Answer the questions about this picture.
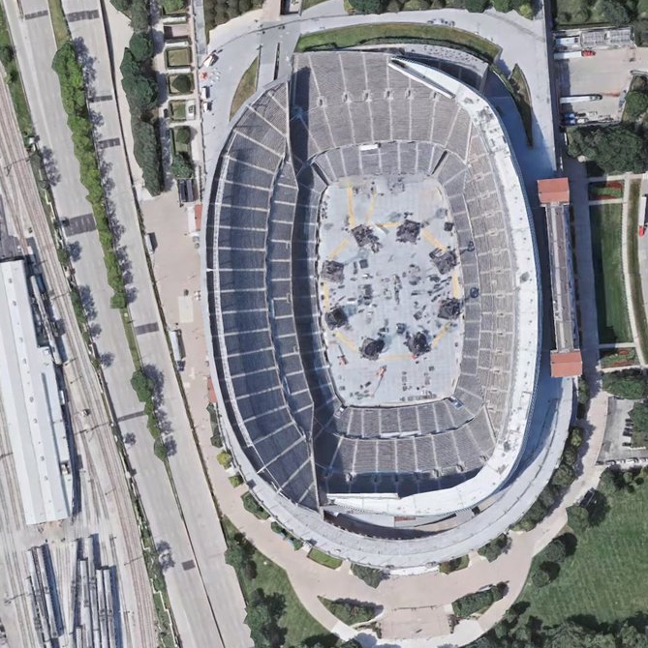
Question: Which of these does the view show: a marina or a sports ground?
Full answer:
This image shows a sports ground.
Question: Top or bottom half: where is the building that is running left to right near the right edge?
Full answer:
The top half of the photo is where the building that is running left to right near the right edge is.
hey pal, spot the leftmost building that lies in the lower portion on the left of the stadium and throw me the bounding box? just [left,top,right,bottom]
[0,259,76,524]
